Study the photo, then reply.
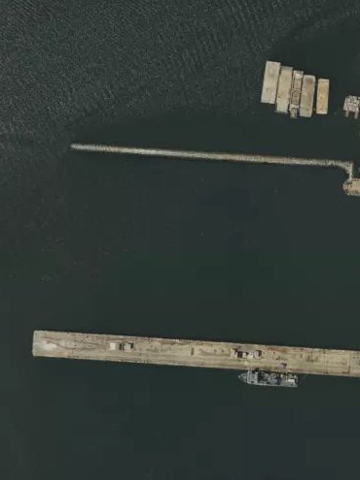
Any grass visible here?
No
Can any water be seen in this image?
Yes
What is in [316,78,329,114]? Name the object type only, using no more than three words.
ship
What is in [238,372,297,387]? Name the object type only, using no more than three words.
ship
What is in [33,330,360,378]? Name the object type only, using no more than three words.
pier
